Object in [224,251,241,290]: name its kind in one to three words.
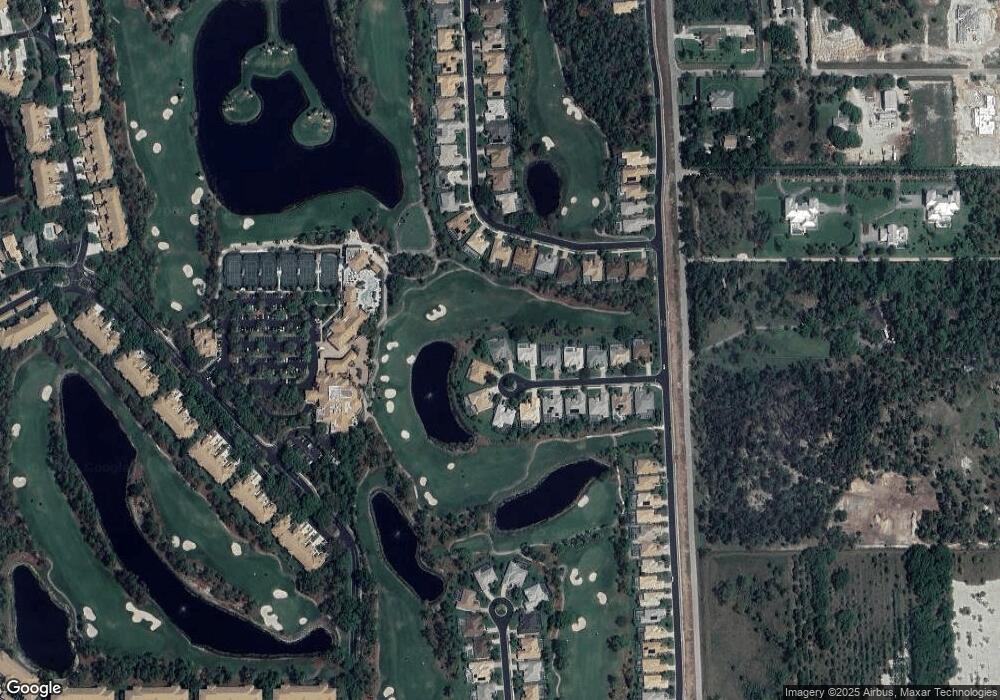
tennis court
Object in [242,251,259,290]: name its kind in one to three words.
tennis court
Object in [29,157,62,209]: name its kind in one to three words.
building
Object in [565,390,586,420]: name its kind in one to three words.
house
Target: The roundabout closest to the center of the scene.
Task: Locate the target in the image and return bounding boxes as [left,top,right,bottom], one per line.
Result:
[497,372,536,397]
